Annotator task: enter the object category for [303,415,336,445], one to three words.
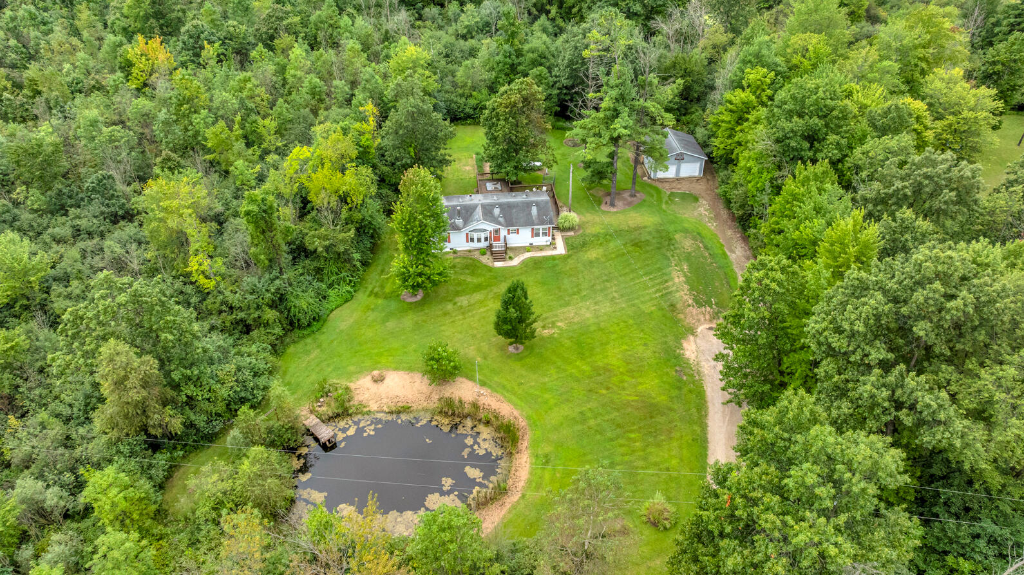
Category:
pier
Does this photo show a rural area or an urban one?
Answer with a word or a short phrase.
rural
